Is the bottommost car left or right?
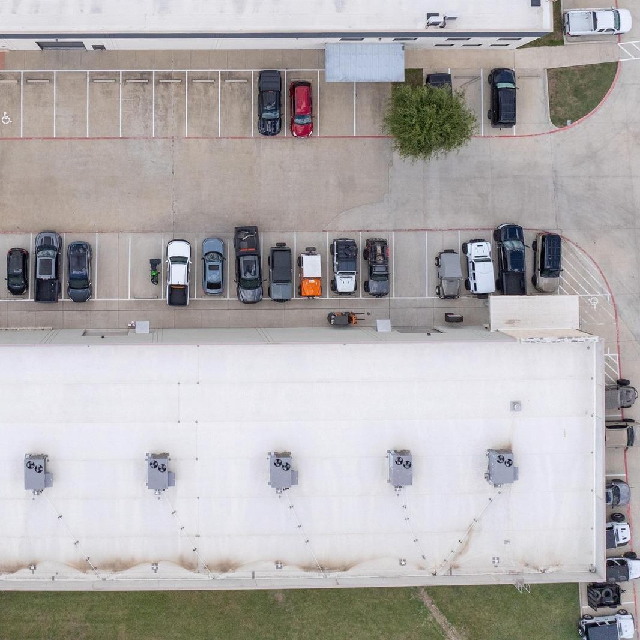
right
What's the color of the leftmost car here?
black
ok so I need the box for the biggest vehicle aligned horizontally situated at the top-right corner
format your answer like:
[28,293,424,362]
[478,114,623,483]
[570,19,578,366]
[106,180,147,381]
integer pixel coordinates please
[558,7,632,37]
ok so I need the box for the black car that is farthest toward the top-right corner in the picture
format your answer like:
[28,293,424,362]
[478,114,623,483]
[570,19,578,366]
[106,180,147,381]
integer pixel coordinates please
[488,68,520,128]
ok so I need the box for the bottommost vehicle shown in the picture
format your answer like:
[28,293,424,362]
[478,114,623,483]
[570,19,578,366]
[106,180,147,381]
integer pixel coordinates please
[573,611,636,640]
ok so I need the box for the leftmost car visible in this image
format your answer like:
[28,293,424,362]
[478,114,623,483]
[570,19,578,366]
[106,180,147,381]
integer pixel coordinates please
[4,246,30,295]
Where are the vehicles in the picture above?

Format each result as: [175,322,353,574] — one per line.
[604,420,640,451]
[4,246,30,295]
[163,237,192,306]
[297,246,323,298]
[606,551,640,584]
[531,232,564,293]
[573,611,636,640]
[603,381,638,411]
[490,221,527,295]
[605,479,632,509]
[432,245,462,299]
[256,70,285,137]
[325,311,364,328]
[288,80,316,138]
[149,258,161,285]
[65,240,94,303]
[364,235,390,294]
[267,243,294,303]
[605,512,633,546]
[31,228,64,301]
[199,237,227,295]
[488,68,520,128]
[233,225,265,304]
[330,237,358,294]
[461,235,494,298]
[558,7,632,37]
